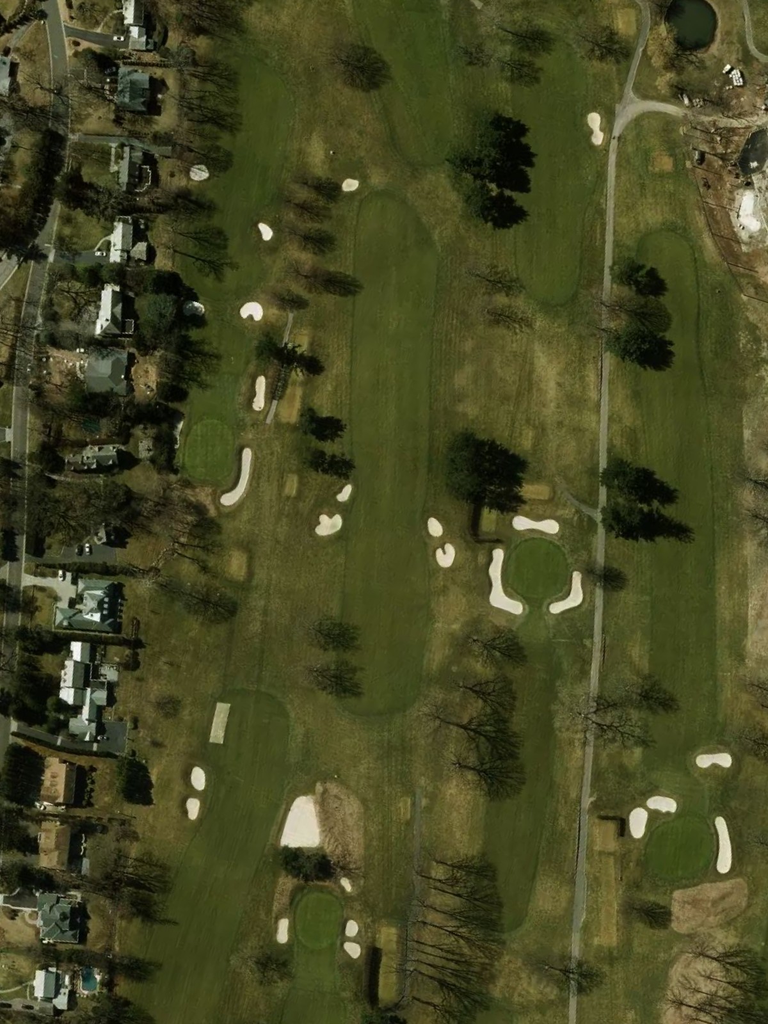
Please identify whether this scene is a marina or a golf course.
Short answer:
golf course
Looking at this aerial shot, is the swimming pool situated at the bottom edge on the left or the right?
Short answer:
left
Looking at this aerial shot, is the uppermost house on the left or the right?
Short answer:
left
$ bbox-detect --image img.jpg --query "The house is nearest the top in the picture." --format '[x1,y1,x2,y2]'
[123,0,154,50]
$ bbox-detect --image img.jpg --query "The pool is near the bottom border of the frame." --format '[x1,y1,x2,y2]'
[78,964,101,995]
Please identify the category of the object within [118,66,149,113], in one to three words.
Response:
house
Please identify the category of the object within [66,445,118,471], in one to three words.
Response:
house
